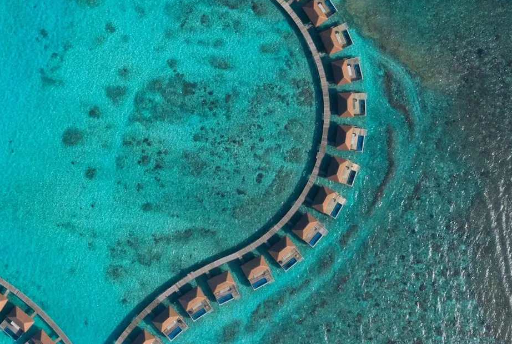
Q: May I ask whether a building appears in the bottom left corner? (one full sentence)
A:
Yes, the scene does show a building in the bottom left corner.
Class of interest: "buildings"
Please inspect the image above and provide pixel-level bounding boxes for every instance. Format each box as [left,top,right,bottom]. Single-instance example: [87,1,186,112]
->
[178,285,214,322]
[267,235,304,272]
[329,55,363,86]
[310,186,347,219]
[300,0,338,27]
[334,125,368,152]
[0,305,34,343]
[240,255,274,292]
[318,22,355,55]
[152,305,189,343]
[24,328,56,344]
[129,328,163,344]
[206,270,240,307]
[290,213,328,249]
[324,155,361,187]
[335,91,368,117]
